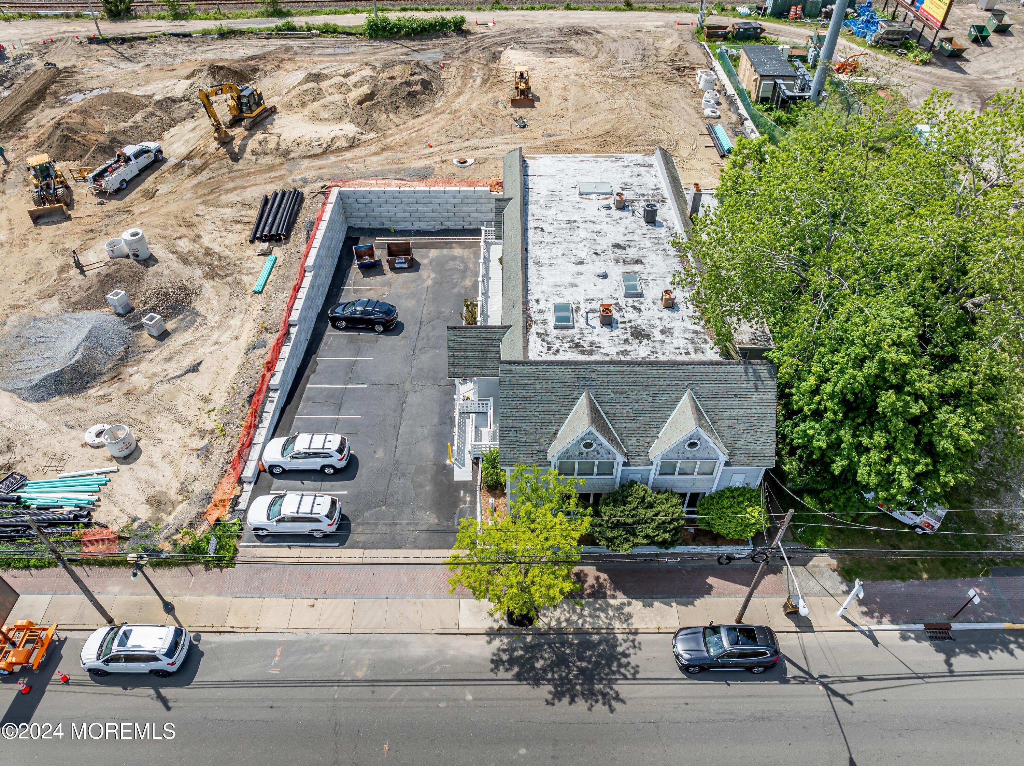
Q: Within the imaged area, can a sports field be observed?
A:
No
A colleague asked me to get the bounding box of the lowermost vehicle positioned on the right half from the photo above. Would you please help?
[677,624,785,679]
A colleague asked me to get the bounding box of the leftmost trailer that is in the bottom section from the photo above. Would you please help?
[0,577,55,678]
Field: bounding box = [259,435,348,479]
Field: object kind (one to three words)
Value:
car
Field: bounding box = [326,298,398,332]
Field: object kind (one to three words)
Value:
car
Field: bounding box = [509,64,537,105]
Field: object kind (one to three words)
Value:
work vehicle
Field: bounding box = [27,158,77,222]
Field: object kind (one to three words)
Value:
work vehicle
